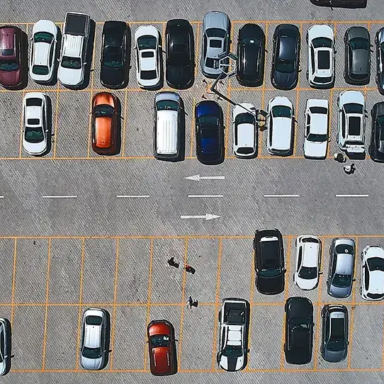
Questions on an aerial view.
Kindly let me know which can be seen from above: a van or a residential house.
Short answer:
van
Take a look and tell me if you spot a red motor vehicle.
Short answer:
Yes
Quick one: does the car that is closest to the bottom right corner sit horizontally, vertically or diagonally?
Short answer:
vertically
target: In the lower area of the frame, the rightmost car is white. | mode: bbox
[360,245,384,300]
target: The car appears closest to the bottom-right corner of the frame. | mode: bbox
[321,304,351,361]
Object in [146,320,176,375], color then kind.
red car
